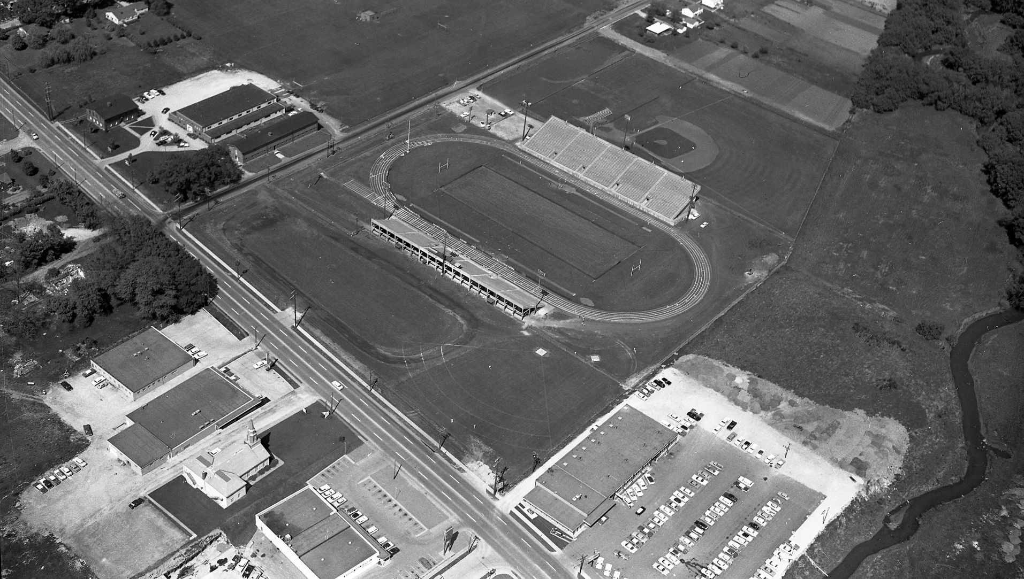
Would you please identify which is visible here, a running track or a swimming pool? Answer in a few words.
running track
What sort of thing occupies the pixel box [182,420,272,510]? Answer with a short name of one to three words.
building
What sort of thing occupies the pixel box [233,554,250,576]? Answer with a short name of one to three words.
vehicle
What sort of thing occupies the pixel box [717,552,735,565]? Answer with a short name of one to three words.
vehicle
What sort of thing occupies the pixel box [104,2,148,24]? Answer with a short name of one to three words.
house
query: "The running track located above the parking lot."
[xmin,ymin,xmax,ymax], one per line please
[370,134,712,324]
